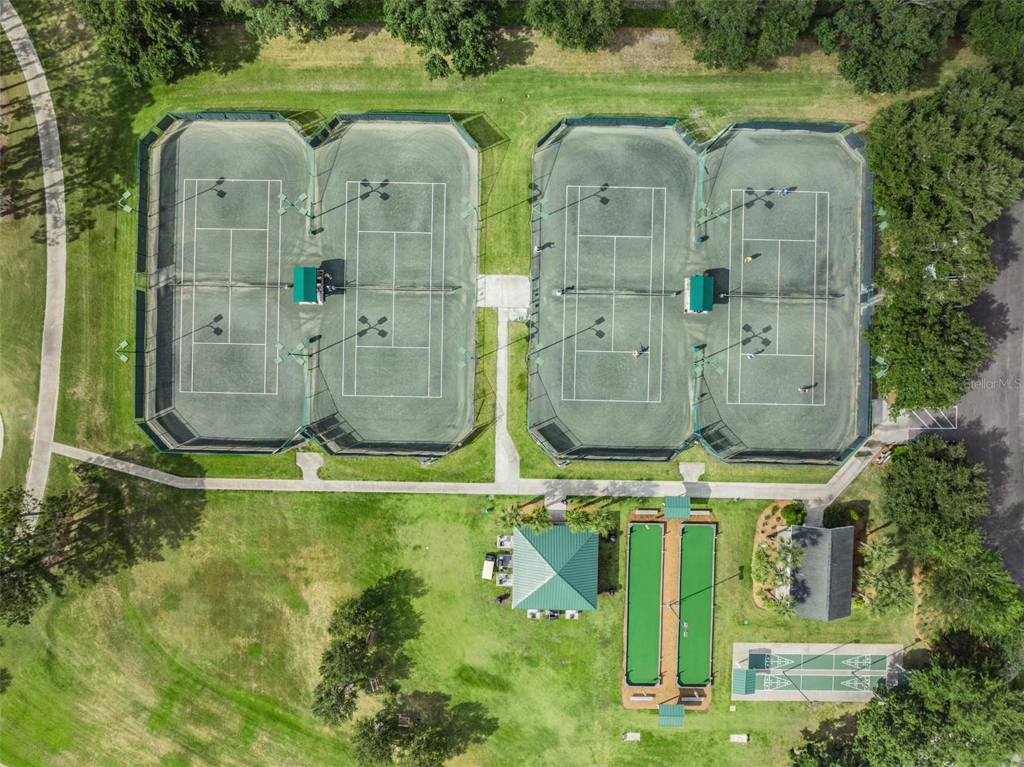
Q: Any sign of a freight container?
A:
No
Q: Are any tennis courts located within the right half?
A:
Yes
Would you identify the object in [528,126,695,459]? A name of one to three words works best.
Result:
tennis court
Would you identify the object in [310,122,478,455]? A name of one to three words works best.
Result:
tennis court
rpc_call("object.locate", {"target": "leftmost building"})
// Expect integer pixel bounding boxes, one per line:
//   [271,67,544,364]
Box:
[512,524,599,611]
